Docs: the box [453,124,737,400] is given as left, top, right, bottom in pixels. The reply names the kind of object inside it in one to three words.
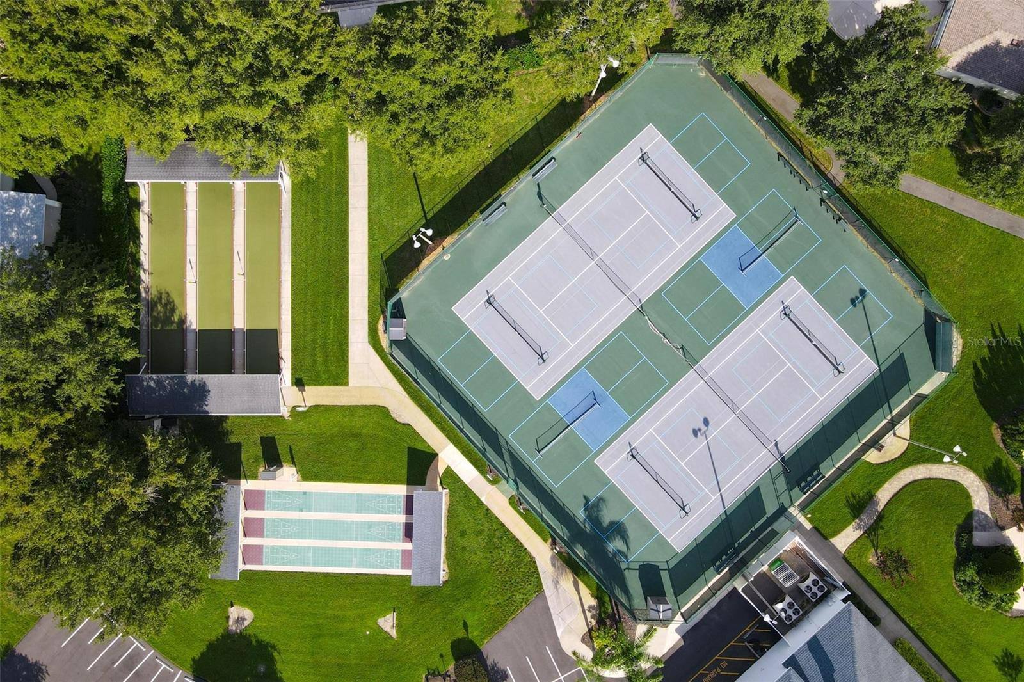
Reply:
tennis court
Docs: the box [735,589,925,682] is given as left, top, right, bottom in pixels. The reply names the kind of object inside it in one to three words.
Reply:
building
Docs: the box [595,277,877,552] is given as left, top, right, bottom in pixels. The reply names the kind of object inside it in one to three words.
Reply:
tennis court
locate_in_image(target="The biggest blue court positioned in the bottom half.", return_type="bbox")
[509,332,668,487]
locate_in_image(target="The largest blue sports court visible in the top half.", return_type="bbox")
[662,189,822,345]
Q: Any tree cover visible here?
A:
Yes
